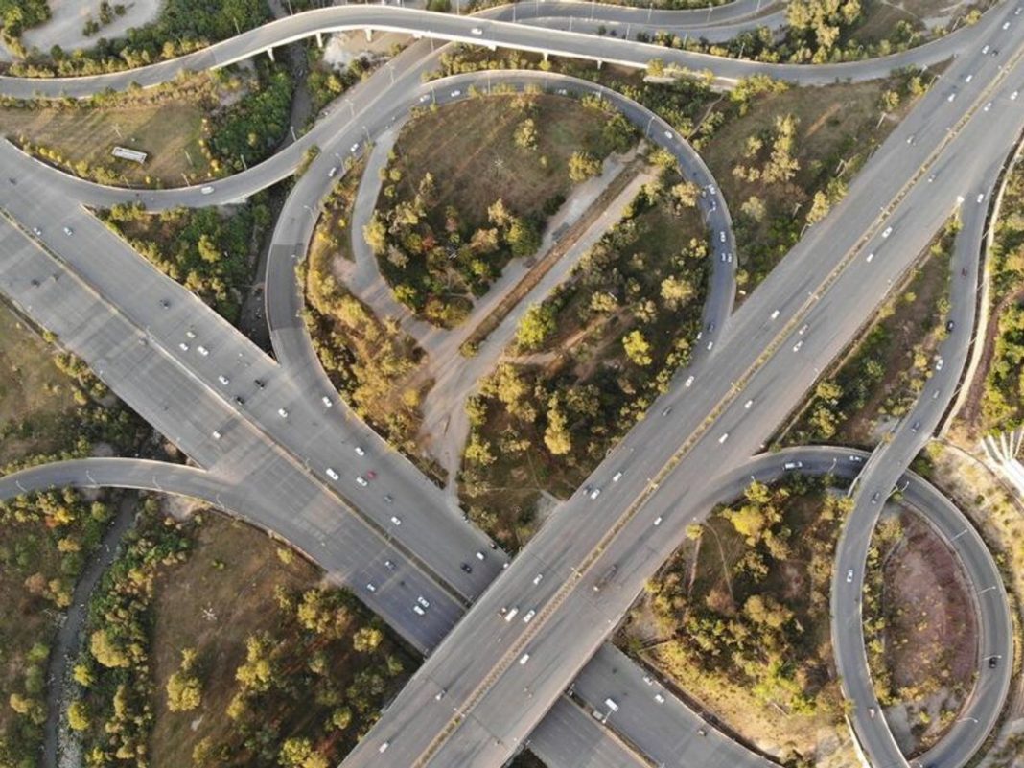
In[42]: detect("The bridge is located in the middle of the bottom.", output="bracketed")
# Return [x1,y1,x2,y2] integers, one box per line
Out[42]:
[380,552,638,749]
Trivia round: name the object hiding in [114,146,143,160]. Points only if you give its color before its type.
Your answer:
white vehicle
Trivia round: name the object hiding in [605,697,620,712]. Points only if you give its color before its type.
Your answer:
white vehicle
